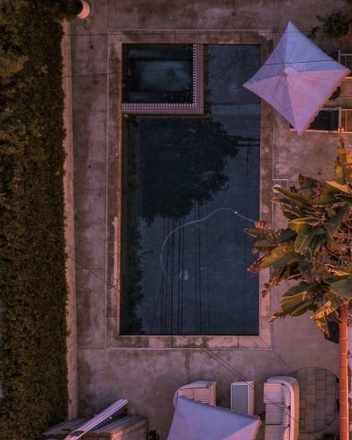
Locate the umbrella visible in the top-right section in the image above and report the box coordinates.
[243,22,352,135]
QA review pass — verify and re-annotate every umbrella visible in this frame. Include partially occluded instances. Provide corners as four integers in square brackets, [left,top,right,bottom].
[243,22,352,135]
[171,393,264,440]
